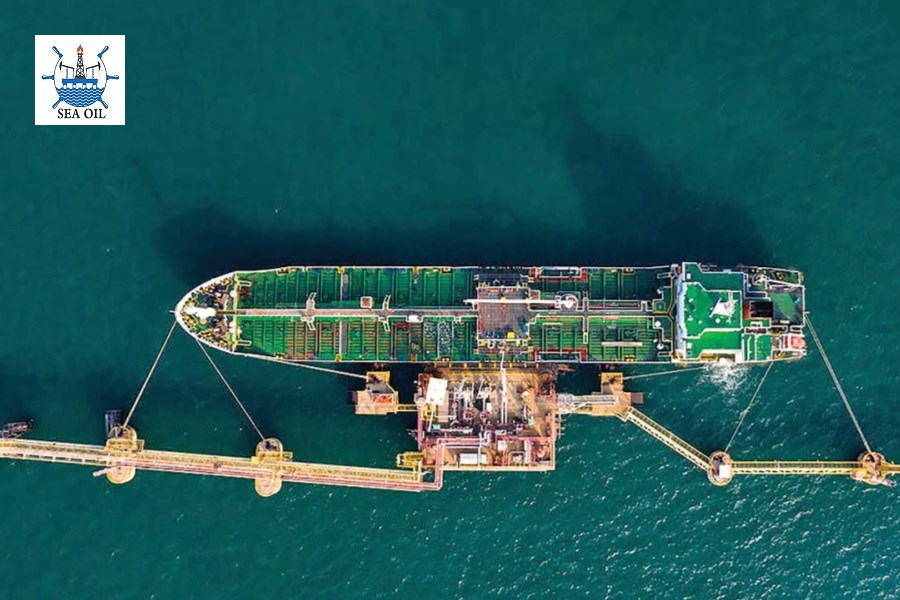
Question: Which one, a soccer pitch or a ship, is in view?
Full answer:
I can see a ship in this picture.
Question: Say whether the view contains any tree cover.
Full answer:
No, no tree cover is visible.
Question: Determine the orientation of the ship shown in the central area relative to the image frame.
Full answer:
From this overhead view, the ship shown in the central area appears to run from left to right.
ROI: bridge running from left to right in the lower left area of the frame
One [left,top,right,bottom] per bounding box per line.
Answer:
[0,438,428,488]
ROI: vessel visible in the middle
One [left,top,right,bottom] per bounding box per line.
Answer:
[170,262,809,363]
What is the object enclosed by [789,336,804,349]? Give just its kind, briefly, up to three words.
boat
